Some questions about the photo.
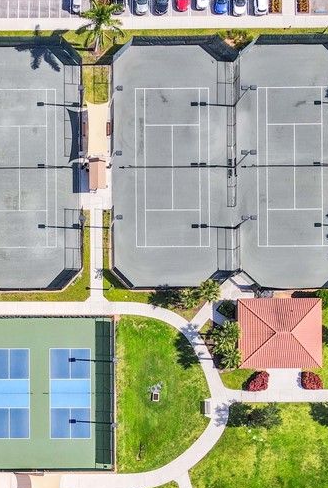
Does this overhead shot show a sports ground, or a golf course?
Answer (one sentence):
This looks like a sports ground.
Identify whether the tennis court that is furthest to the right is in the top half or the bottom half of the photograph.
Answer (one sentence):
The top half of the photo is where the tennis court that is furthest to the right is.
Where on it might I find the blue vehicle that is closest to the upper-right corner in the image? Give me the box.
[214,0,228,12]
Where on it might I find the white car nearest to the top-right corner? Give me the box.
[254,0,270,14]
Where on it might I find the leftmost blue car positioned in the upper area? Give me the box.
[155,0,170,13]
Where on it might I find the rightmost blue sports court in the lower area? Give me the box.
[45,348,95,439]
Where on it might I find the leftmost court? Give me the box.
[0,348,34,439]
